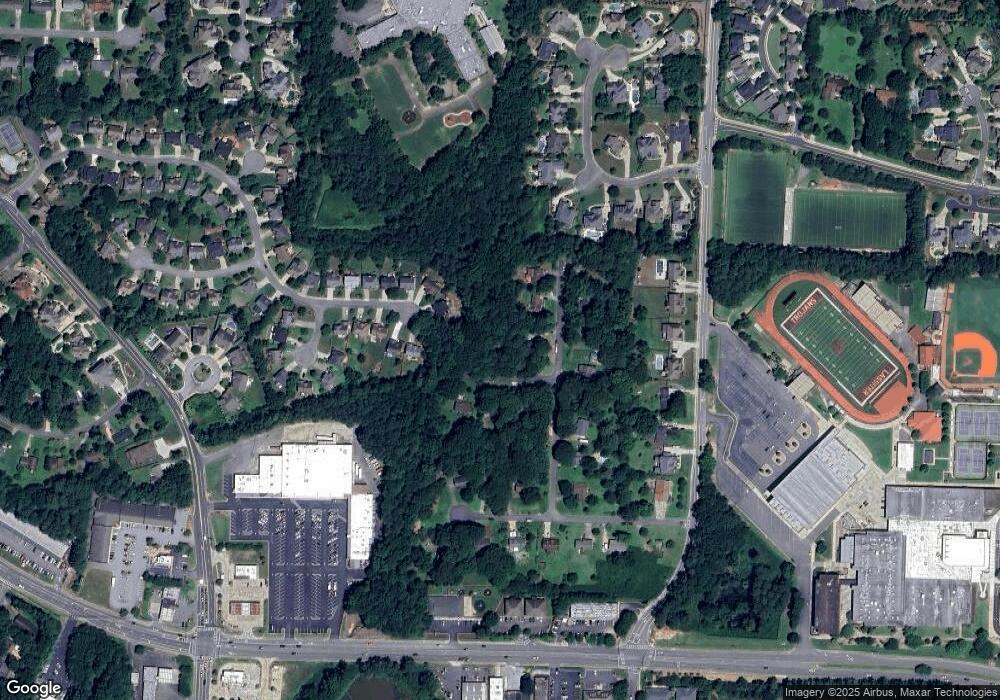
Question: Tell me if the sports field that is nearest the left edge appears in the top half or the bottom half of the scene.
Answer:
top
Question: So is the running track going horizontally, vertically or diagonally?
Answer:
diagonally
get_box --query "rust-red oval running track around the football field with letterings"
[744,271,910,425]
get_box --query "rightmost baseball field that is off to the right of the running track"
[942,284,1000,391]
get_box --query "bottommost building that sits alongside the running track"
[841,487,1000,627]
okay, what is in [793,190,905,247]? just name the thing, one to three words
sports field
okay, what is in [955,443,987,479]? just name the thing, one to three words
tennis court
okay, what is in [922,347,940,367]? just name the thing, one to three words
building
